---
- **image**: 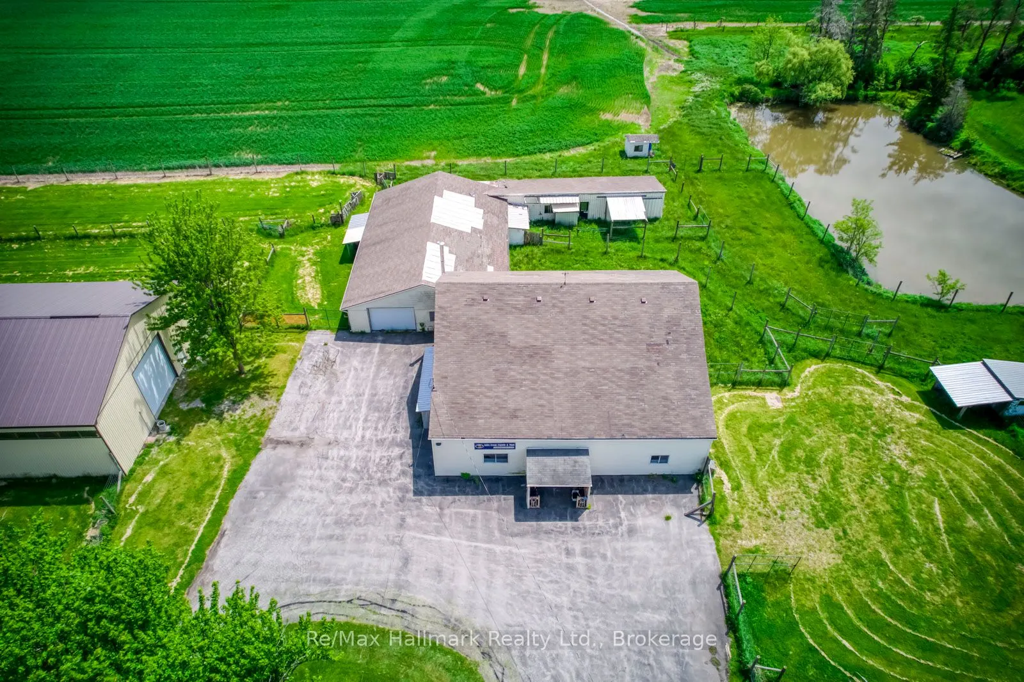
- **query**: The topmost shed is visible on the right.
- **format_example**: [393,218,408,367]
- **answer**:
[623,131,660,157]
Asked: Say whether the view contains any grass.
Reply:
Yes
